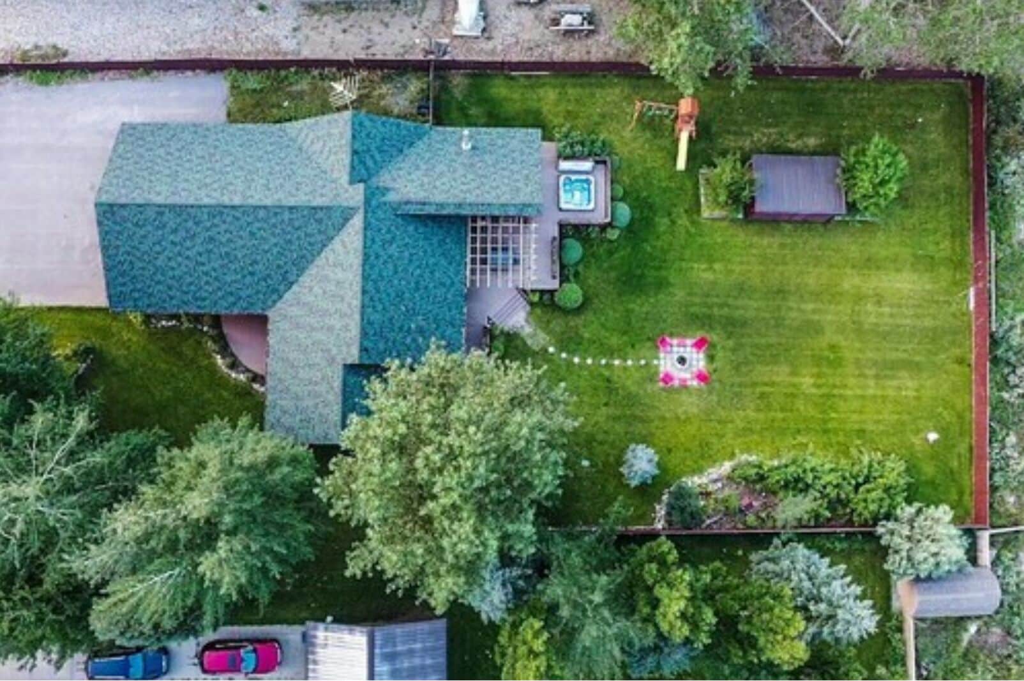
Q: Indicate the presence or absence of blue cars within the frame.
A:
Yes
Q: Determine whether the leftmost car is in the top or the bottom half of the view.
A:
bottom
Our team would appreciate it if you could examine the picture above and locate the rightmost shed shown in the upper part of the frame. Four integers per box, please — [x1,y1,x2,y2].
[744,155,848,221]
